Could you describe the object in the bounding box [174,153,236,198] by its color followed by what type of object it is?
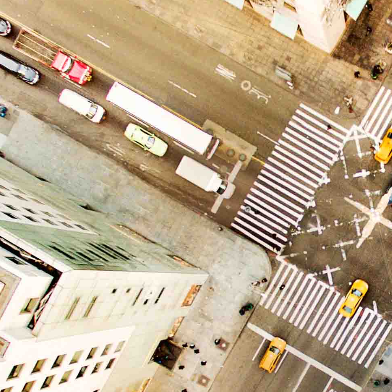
white truck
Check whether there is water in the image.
No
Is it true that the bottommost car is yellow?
Yes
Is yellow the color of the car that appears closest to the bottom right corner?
Yes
